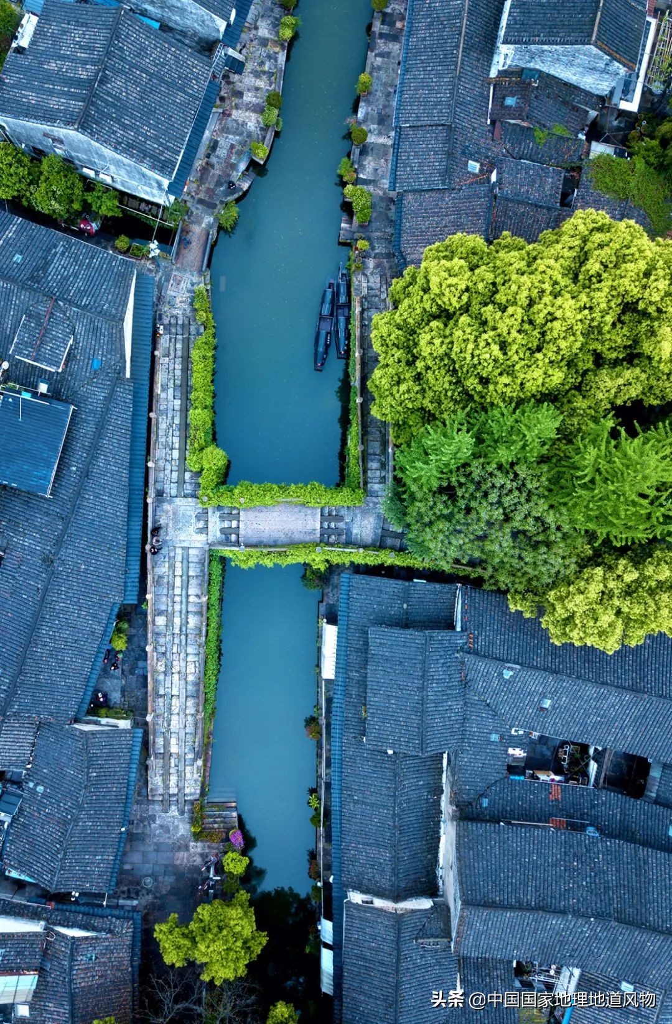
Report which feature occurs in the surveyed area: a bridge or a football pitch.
bridge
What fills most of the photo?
buildings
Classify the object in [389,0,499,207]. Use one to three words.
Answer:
house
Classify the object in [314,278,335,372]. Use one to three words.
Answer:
boat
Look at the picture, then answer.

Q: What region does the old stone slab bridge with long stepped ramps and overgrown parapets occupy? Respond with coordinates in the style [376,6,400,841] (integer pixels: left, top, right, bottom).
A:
[145,294,491,799]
